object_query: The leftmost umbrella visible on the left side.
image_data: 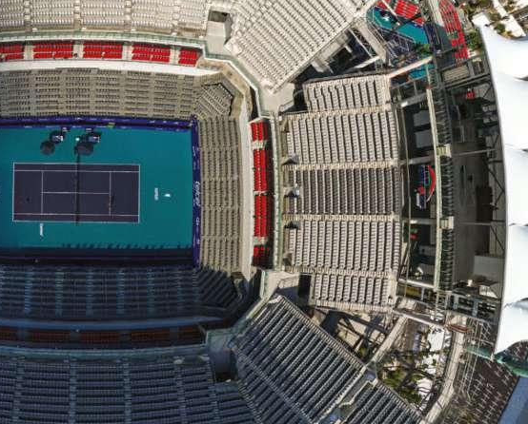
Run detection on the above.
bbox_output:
[39,140,54,154]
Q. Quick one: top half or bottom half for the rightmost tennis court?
top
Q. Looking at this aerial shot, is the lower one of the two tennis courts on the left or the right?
left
